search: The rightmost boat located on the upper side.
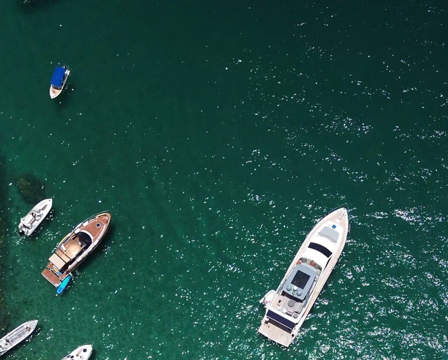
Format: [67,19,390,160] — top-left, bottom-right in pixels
[50,65,71,102]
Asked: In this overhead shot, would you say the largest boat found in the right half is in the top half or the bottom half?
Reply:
bottom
